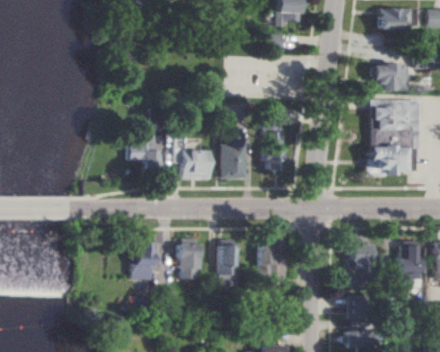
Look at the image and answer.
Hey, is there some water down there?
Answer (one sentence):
Yes, some water is visible.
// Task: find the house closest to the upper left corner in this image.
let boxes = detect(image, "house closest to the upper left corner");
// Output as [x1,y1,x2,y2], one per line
[127,139,164,166]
